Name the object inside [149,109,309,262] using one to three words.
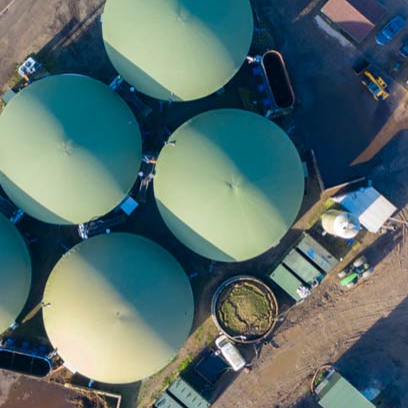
storage tank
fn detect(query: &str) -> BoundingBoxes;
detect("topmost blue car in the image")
[374,15,405,47]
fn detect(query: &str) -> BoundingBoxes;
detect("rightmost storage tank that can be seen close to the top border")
[101,0,254,106]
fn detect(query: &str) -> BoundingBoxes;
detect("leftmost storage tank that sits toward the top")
[0,74,142,227]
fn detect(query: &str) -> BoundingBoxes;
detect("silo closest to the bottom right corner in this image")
[322,210,361,239]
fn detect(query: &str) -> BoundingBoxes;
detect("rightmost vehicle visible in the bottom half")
[338,258,370,287]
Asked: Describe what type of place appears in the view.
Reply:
industrial area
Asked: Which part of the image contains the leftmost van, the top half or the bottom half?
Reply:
bottom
